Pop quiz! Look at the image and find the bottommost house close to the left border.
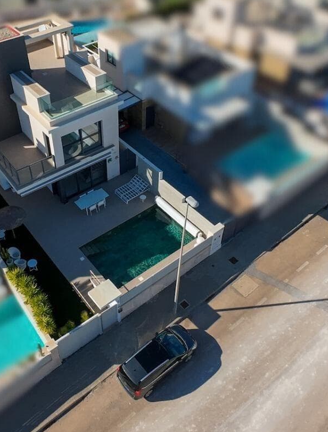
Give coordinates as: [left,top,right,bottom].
[0,15,124,210]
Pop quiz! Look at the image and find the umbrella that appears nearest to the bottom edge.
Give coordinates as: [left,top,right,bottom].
[0,206,27,237]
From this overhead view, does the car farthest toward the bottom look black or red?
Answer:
black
